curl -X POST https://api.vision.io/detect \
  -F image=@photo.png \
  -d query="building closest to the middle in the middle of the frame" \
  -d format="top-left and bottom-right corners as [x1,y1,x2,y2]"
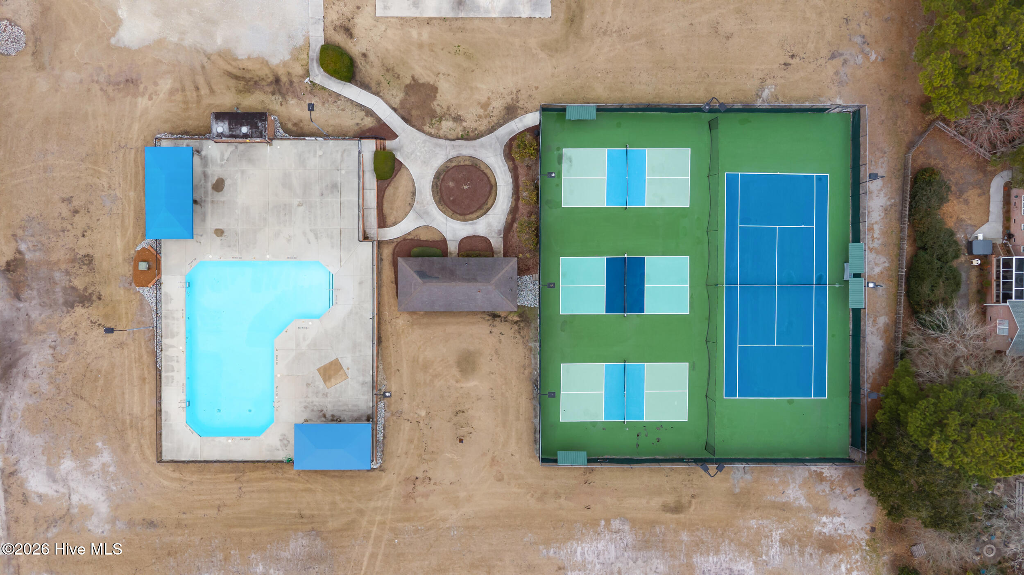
[397,257,518,312]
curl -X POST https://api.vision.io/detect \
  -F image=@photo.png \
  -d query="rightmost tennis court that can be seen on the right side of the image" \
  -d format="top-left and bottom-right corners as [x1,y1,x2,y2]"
[724,172,829,400]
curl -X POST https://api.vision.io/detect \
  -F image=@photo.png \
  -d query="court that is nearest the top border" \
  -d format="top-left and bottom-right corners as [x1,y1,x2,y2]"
[562,148,691,207]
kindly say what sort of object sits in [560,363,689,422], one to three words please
sports court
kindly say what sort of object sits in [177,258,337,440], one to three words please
swimming pool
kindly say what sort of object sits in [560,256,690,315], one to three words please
sports court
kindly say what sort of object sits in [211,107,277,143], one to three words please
building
